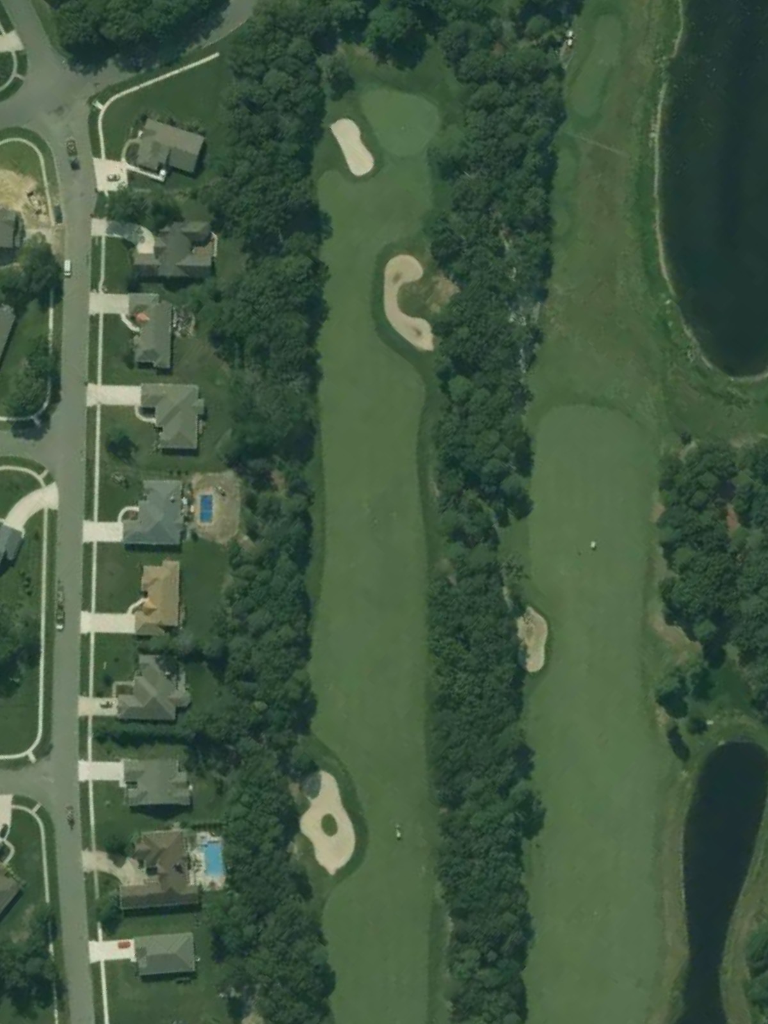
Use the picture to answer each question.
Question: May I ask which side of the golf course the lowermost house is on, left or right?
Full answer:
It is on the left side of the golf course that the lowermost house is positioned.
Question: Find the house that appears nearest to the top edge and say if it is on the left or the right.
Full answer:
The house that appears nearest to the top edge appears in the left half of the scene.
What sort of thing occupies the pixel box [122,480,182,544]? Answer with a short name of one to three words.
house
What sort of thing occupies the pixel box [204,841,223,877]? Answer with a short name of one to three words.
swimming pool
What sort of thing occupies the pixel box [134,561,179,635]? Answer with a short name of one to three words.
house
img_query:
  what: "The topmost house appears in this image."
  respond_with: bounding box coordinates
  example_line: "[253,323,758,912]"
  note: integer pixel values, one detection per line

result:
[134,118,205,172]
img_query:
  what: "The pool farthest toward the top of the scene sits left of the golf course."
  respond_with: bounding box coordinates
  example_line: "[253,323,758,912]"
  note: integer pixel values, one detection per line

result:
[199,494,214,524]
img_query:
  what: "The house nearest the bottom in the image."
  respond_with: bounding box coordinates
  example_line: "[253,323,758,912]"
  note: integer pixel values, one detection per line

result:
[133,933,196,976]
